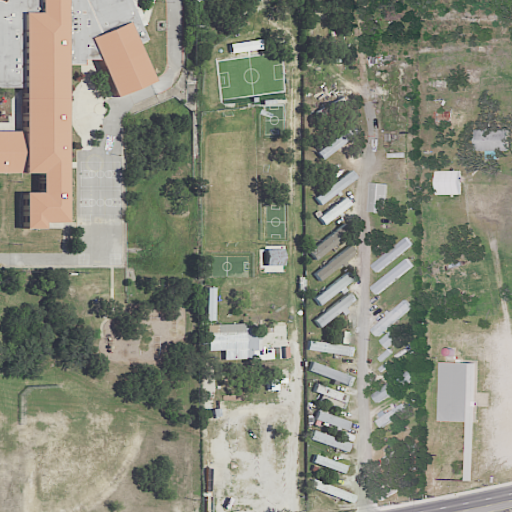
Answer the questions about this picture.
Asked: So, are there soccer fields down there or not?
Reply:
Yes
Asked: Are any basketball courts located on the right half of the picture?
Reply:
No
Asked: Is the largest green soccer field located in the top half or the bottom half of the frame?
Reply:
top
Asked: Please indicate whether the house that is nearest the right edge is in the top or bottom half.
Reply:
top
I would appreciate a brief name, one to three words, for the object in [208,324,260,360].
building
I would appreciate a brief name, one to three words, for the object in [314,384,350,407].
house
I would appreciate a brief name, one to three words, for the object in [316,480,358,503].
house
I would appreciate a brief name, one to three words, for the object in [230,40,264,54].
building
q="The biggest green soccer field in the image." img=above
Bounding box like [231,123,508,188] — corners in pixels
[216,52,287,104]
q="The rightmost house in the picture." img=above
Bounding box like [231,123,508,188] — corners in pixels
[472,130,508,152]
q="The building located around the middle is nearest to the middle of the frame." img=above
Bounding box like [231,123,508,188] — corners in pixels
[260,246,288,272]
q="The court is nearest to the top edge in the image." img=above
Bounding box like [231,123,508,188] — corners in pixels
[80,162,121,188]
